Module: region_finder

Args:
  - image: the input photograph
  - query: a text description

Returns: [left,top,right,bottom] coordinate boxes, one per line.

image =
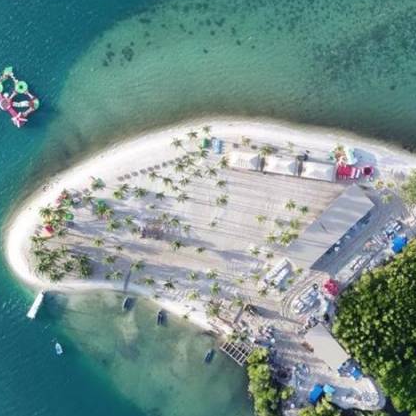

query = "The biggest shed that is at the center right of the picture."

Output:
[288,184,378,275]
